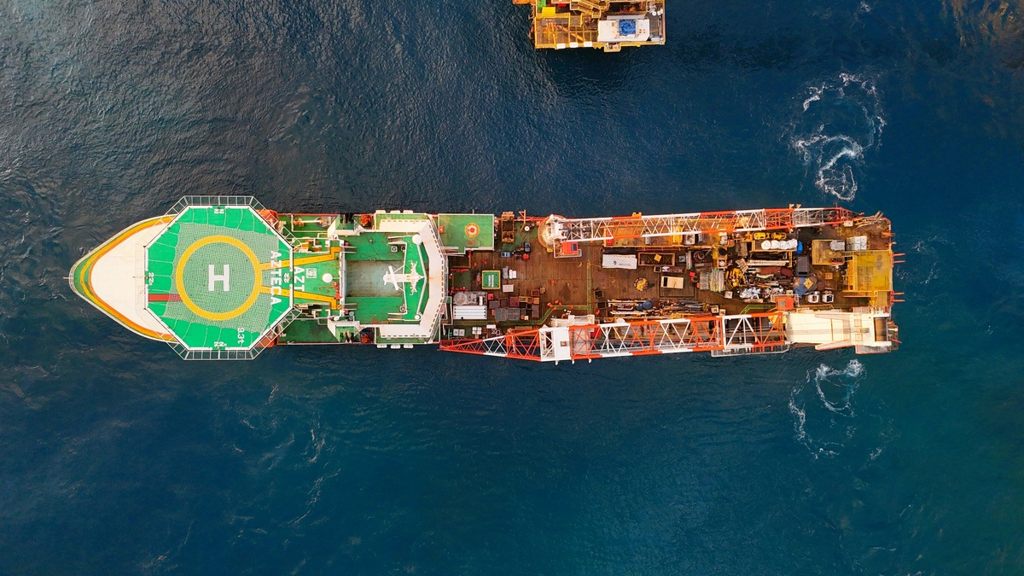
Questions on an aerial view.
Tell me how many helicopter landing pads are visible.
1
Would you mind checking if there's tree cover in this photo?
No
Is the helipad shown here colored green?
Yes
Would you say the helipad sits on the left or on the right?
left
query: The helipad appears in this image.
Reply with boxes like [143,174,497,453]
[134,196,302,360]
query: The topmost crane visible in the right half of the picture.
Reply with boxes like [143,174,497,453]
[533,203,866,257]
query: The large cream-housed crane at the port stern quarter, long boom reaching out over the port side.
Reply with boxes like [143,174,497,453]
[437,295,892,364]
